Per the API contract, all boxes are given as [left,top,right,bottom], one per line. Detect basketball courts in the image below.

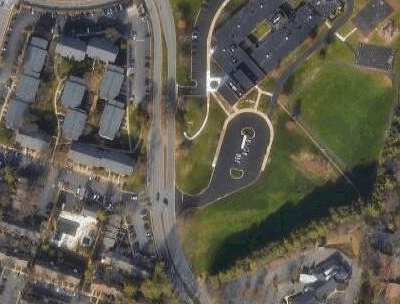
[357,43,395,71]
[353,0,394,35]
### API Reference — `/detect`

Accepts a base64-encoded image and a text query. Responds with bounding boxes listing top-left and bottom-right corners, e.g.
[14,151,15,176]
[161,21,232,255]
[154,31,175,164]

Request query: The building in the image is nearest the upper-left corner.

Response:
[24,34,51,74]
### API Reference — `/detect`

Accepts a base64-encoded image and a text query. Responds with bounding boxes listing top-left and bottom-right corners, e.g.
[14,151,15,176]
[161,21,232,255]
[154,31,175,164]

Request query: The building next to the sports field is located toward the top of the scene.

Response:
[207,0,334,106]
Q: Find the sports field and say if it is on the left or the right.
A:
right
